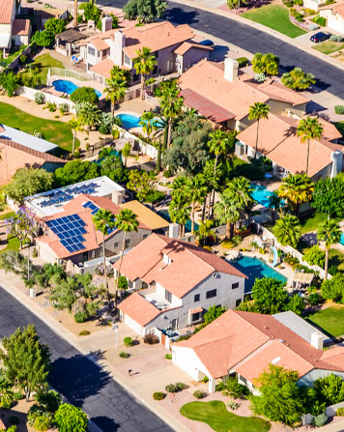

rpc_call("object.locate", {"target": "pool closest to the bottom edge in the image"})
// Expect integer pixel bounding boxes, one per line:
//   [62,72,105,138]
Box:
[233,254,290,288]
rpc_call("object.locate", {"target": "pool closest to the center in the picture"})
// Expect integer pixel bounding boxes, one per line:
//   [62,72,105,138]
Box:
[153,207,204,232]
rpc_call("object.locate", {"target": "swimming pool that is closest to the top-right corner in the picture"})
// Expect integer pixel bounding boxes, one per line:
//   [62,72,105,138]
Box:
[245,179,287,208]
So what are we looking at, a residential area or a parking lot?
residential area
